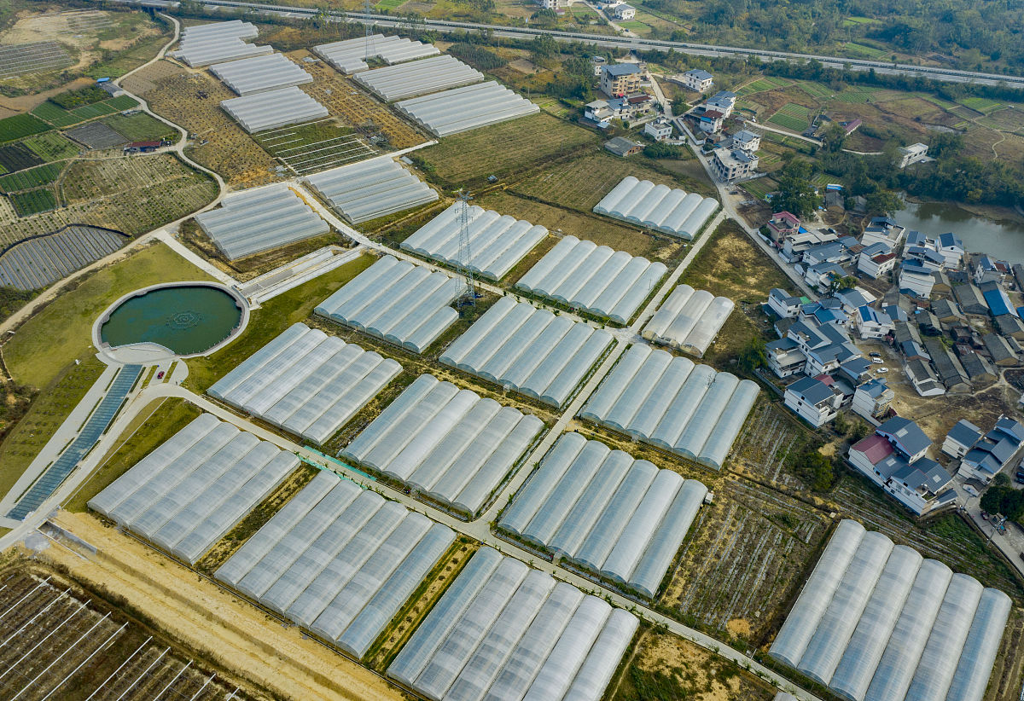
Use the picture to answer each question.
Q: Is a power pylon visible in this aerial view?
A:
Yes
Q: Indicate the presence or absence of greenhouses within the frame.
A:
Yes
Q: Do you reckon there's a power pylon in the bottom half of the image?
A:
No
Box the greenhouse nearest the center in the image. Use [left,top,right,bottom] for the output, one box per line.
[437,295,615,408]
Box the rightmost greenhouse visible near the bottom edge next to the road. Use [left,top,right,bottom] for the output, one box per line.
[768,518,1013,701]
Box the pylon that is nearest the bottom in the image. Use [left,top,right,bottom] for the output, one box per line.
[445,183,479,300]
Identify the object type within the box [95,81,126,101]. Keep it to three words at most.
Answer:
shed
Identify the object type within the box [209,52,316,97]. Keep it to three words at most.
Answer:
greenhouse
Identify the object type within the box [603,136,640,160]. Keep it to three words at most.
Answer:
barn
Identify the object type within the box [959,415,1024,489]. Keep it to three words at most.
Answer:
house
